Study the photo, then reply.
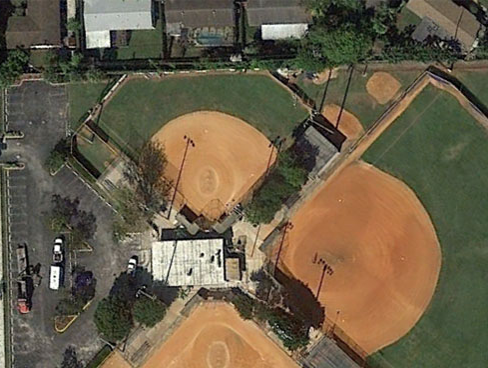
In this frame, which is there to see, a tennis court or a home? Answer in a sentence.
Visible in the photo is a home.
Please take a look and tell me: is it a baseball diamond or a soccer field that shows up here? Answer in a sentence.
Of the two, only a baseball diamond appears.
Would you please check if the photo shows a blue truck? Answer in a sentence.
No, there isn't any blue truck down there.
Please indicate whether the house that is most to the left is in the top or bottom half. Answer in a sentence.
The house that is most to the left is in the top half of the image.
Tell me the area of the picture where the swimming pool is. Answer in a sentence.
The swimming pool is located in the top region of the scene.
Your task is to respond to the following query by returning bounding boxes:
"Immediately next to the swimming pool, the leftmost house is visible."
[81,0,156,32]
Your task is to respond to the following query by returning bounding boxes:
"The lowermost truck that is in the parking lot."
[13,277,40,313]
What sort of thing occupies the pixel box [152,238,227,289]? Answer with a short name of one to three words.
building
